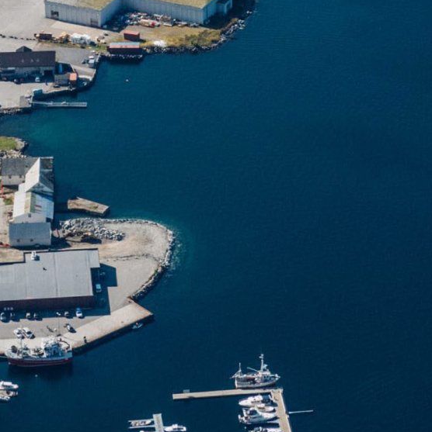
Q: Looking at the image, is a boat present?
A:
Yes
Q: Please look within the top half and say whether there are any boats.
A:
No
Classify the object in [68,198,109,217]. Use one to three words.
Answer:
pier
